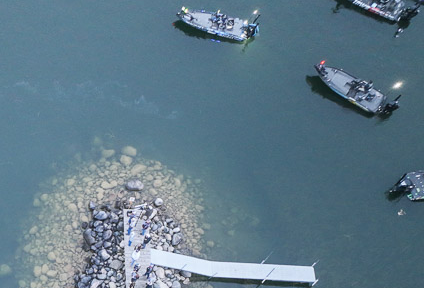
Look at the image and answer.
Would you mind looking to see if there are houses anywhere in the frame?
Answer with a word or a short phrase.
No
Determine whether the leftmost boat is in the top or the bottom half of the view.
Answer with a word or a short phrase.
top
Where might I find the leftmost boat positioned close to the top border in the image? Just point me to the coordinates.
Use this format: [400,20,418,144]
[177,8,262,42]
